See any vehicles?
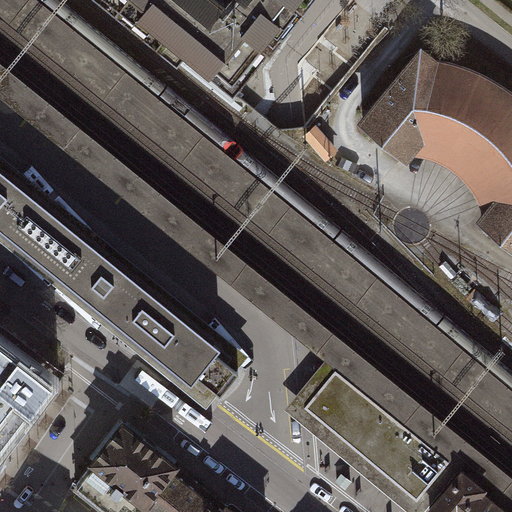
Yes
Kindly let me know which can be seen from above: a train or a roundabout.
train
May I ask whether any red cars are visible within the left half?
No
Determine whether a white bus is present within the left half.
Yes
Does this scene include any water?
No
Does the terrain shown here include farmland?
No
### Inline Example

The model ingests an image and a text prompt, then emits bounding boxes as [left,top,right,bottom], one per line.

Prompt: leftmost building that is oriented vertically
[0,334,60,470]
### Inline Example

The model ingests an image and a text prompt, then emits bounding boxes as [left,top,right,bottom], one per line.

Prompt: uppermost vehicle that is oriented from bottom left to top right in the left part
[48,420,65,441]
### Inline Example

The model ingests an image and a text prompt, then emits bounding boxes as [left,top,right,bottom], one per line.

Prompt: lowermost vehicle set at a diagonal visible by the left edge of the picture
[13,486,34,509]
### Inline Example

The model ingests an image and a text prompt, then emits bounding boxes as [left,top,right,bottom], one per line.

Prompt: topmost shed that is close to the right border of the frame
[356,50,512,258]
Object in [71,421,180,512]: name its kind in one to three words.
house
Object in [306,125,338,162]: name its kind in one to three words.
shed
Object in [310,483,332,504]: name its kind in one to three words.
car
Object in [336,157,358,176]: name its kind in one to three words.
vehicle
